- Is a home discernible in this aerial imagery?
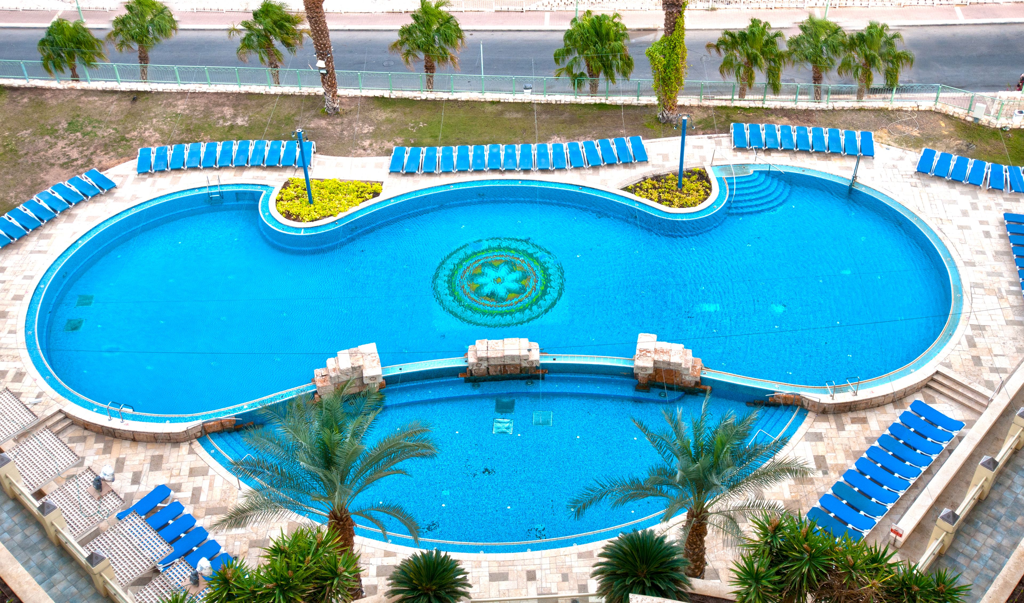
No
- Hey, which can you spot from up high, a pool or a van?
pool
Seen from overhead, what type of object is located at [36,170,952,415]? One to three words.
swimming pool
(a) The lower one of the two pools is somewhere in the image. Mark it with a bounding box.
[207,374,800,544]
